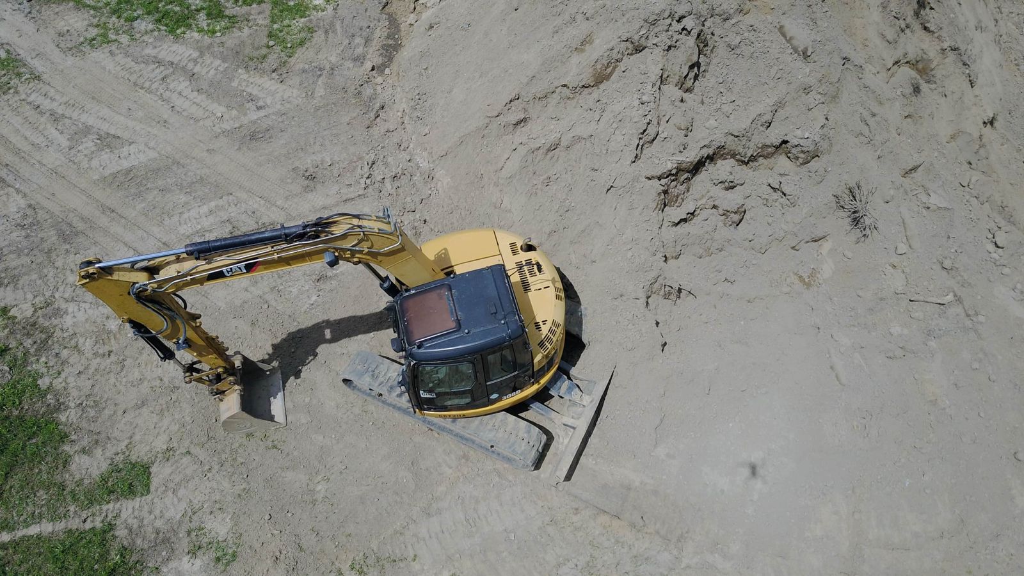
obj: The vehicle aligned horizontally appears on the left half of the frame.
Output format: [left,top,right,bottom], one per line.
[69,183,621,486]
